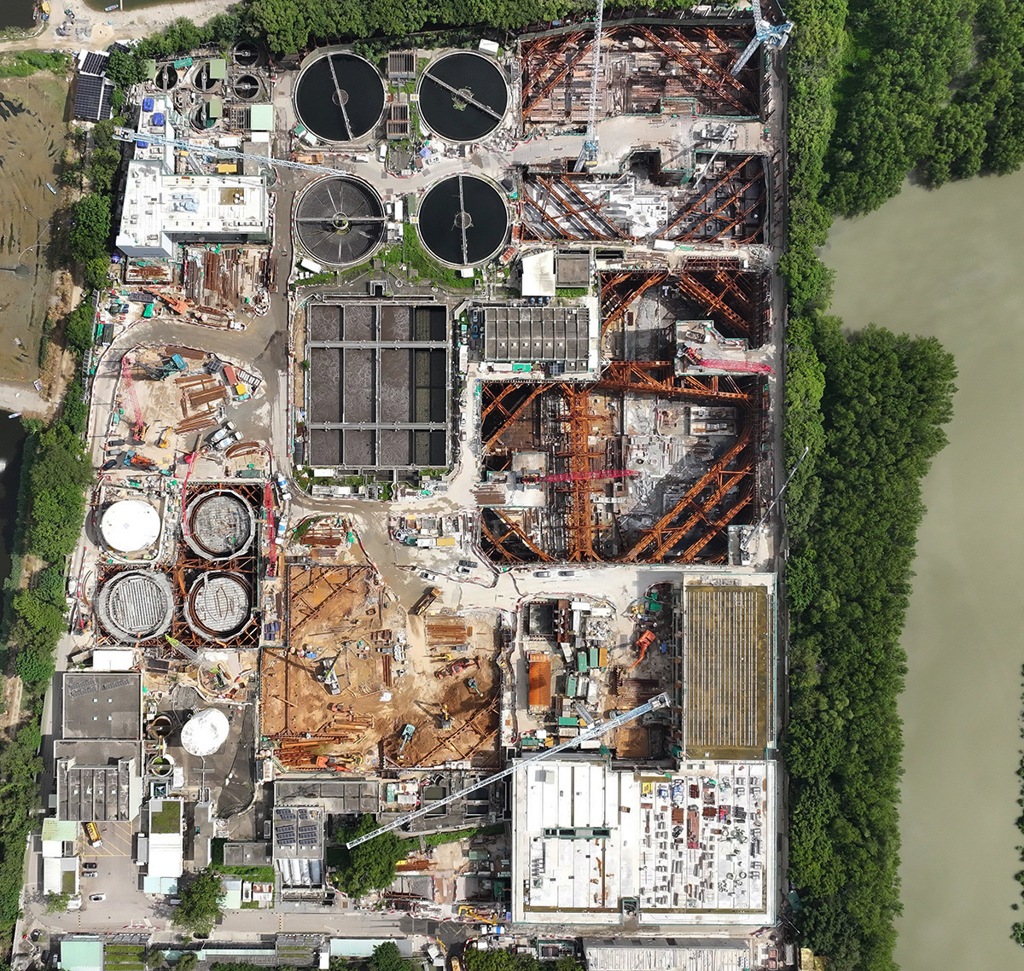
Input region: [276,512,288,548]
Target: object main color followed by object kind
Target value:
white vehicle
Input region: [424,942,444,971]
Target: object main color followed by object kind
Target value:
white vehicle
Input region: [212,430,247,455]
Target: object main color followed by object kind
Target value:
white truck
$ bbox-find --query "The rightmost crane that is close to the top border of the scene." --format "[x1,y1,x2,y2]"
[722,0,797,91]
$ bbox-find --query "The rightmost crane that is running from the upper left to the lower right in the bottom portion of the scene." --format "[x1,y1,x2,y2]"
[165,629,235,698]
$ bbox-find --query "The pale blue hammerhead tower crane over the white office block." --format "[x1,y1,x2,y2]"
[114,127,346,179]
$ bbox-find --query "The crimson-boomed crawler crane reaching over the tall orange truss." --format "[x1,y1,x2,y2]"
[515,469,641,492]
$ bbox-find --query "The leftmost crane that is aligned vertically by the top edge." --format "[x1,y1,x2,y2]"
[562,0,604,187]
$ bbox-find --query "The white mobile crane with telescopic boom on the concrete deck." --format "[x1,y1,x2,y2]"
[690,110,740,184]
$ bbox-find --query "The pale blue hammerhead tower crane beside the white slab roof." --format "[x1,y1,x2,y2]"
[348,696,671,848]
